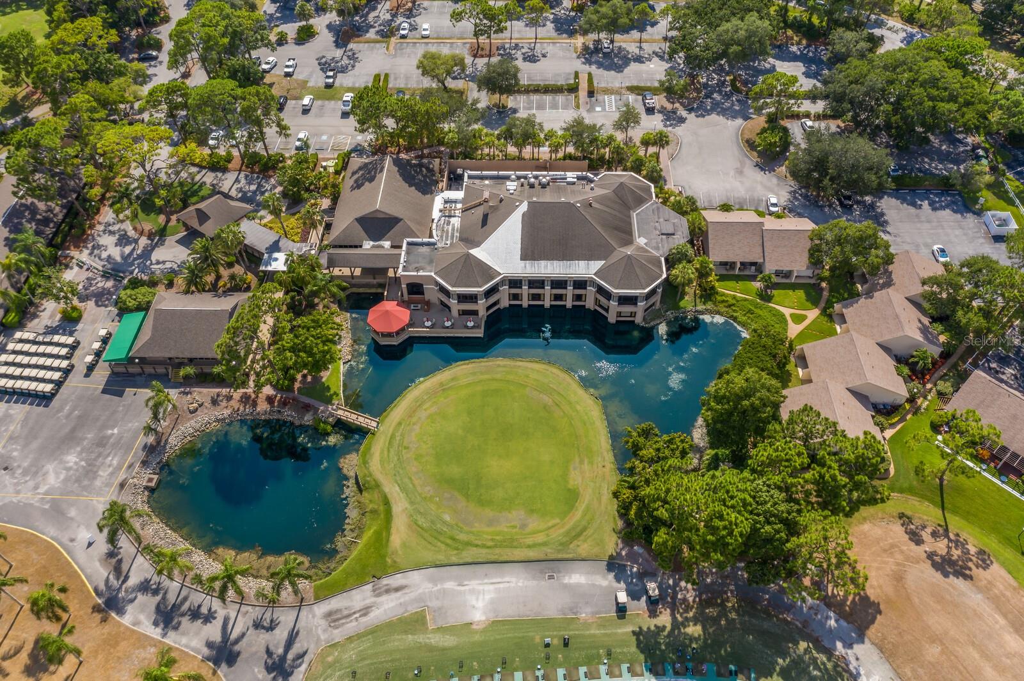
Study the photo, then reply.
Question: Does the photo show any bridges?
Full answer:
Yes, there's a bridge here.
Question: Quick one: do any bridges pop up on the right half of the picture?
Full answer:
No, looking on the right half of the picture, there is no bridge.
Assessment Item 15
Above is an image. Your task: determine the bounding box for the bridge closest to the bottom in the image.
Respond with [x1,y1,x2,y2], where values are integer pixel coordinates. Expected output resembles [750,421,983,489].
[329,405,380,437]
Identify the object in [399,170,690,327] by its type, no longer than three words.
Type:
building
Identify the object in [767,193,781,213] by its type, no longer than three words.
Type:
car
